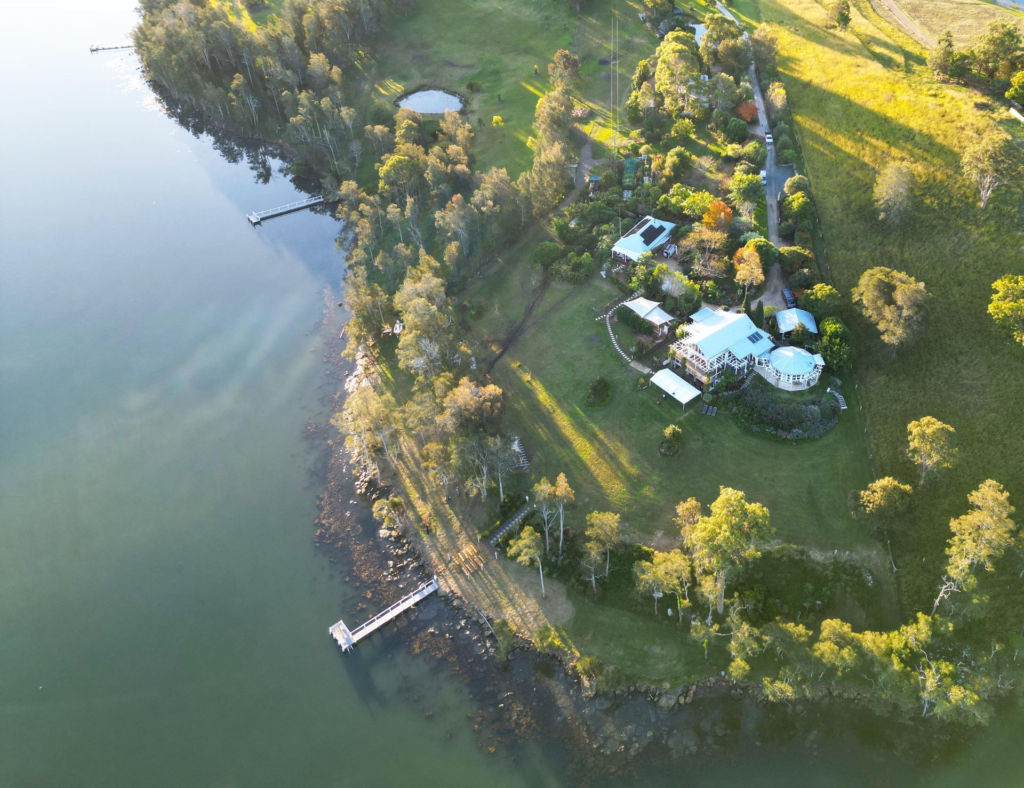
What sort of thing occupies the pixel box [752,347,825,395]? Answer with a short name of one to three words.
building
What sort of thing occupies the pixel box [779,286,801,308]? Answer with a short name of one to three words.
car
